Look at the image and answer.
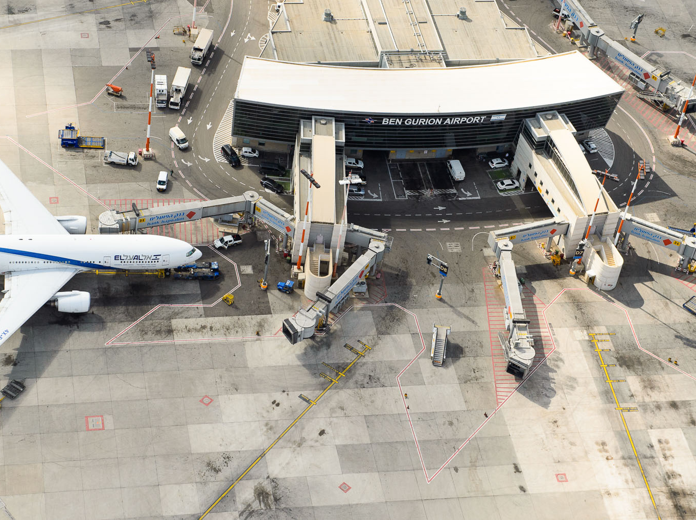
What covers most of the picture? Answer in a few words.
paved ground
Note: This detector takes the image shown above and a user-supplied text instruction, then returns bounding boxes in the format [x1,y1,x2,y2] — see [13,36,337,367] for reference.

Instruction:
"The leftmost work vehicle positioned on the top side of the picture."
[58,124,104,149]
